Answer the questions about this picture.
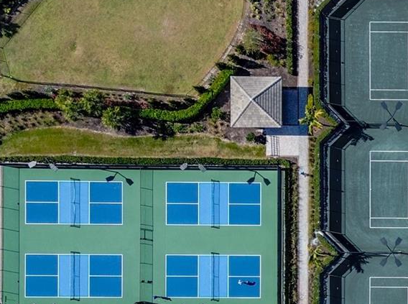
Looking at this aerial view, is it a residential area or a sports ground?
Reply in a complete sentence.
This looks like a sports ground.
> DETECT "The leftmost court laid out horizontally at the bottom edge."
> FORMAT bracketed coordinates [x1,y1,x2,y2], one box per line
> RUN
[3,241,143,304]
